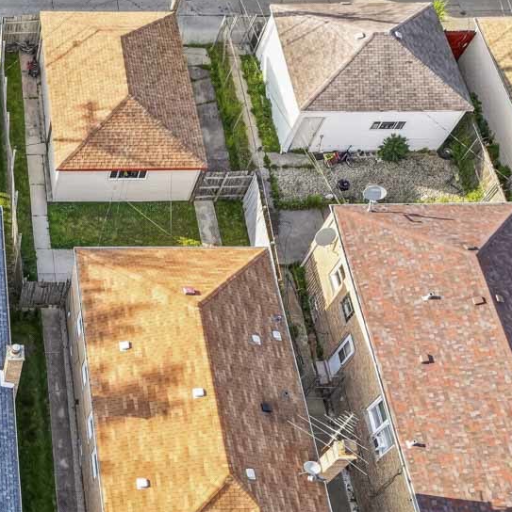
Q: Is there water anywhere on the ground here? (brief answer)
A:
No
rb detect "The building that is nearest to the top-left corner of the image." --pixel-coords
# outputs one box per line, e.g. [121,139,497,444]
[38,8,210,201]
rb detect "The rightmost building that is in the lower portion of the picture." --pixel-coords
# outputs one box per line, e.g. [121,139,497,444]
[295,202,512,512]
